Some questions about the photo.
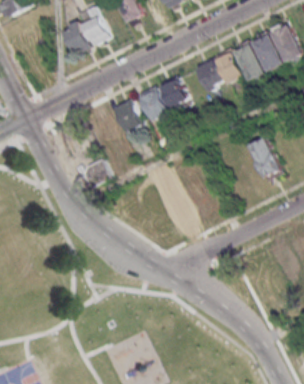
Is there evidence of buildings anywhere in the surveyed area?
Yes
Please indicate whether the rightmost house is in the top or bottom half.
top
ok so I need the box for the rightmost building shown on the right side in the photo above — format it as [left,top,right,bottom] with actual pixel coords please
[268,22,302,62]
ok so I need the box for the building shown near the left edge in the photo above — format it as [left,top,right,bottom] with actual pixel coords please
[0,0,38,20]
